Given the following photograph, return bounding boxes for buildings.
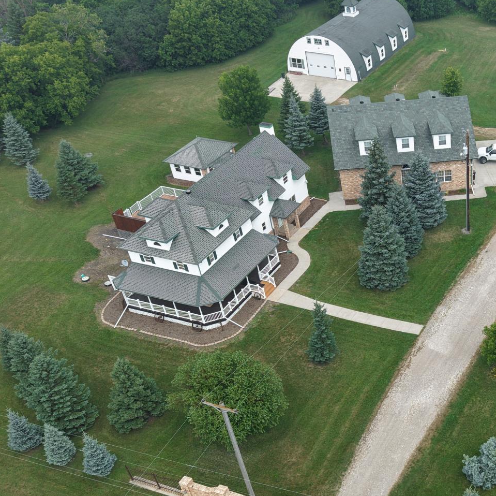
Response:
[328,90,479,200]
[286,0,413,83]
[113,119,324,330]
